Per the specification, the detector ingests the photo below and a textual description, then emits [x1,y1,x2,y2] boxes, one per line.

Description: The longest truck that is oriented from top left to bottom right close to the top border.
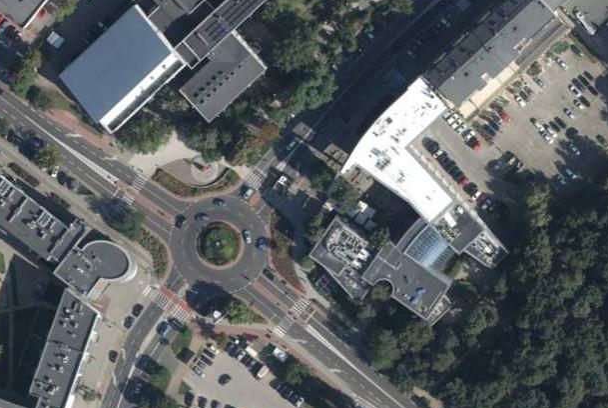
[575,9,599,37]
